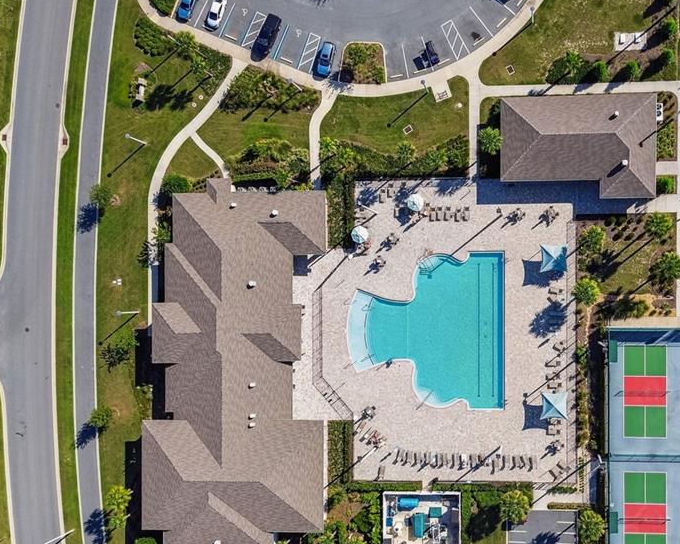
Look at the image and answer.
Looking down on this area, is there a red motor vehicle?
No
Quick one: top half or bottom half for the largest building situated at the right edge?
top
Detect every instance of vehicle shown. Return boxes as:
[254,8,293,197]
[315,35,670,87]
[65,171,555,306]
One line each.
[204,0,225,31]
[425,46,439,67]
[177,0,196,22]
[315,42,334,78]
[251,15,280,59]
